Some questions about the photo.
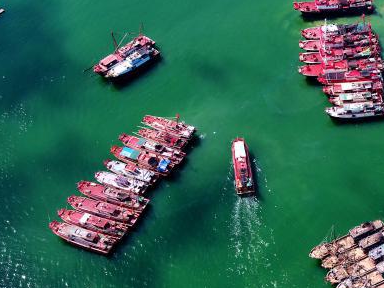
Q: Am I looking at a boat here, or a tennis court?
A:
boat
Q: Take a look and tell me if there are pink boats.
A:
Yes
